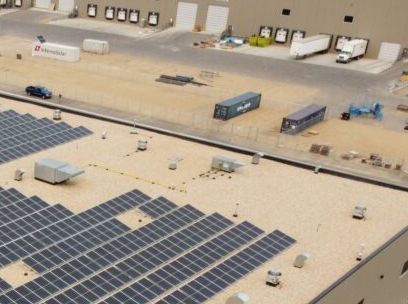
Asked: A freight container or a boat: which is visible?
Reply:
freight container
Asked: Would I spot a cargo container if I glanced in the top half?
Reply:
Yes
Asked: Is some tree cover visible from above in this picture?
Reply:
No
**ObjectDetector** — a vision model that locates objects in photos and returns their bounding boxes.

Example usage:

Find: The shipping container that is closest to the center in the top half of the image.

[213,91,261,121]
